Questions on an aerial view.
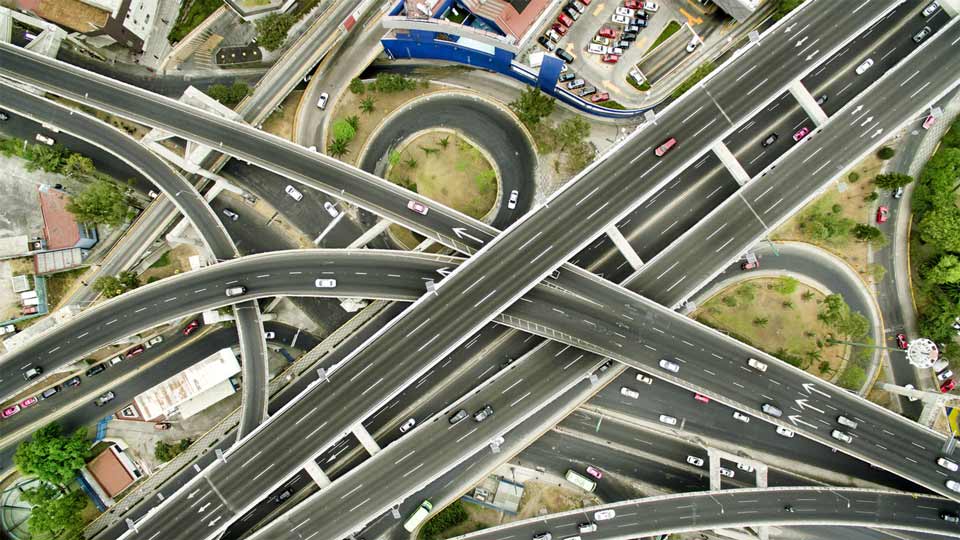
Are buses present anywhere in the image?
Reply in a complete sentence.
Yes, the frame does contain a bus.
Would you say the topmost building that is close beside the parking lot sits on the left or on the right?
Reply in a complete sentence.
You can find the topmost building that is close beside the parking lot on the right side of the picture.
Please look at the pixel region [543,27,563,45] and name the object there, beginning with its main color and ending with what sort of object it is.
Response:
white car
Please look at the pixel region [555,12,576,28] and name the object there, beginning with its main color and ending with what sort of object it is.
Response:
red car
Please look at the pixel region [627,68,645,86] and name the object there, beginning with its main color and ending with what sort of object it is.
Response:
white car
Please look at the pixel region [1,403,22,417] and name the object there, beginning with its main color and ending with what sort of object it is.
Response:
pink car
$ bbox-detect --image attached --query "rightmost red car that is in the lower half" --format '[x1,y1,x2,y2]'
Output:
[937,378,956,392]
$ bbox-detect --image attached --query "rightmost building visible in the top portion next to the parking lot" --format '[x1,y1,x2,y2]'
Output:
[705,0,763,34]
